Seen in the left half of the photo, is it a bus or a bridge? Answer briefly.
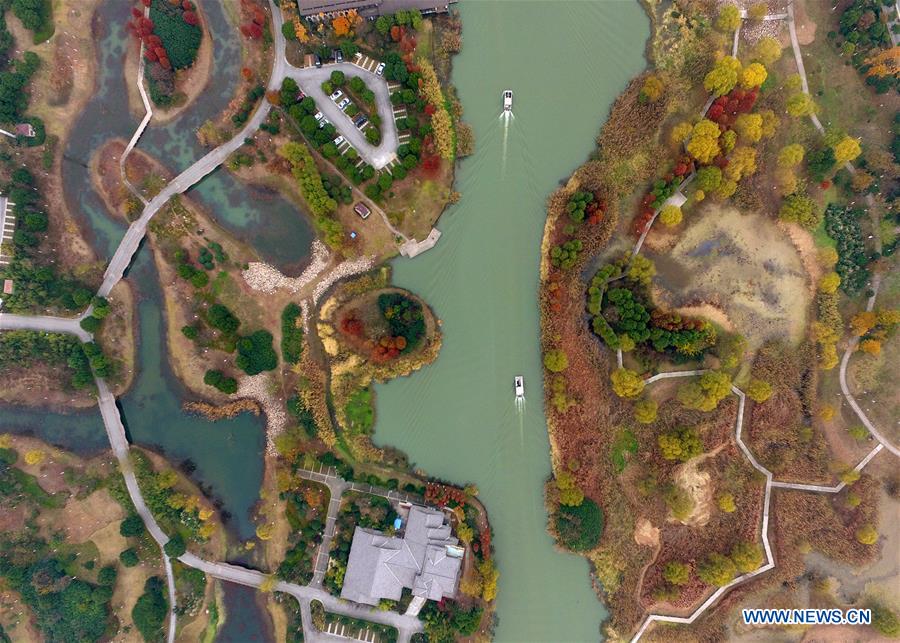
bridge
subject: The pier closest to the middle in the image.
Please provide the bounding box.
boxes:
[400,228,441,258]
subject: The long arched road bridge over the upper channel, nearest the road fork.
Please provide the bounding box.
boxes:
[98,220,150,288]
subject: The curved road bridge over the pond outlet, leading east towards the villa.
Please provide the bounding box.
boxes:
[178,549,272,590]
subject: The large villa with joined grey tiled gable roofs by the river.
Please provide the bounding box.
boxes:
[340,503,468,611]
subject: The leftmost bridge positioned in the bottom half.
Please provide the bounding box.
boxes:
[96,389,132,458]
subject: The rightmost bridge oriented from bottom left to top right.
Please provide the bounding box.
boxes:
[166,143,231,197]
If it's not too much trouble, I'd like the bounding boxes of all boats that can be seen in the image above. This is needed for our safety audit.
[515,375,524,394]
[503,90,512,112]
